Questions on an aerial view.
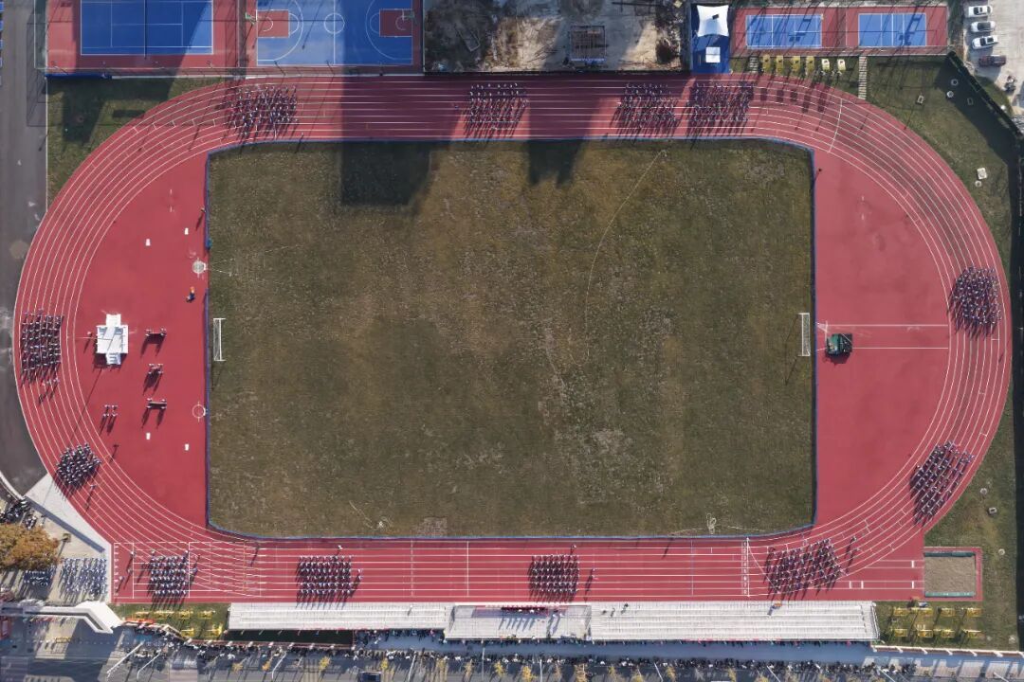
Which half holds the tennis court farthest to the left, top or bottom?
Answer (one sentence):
You can find the tennis court farthest to the left in the top half.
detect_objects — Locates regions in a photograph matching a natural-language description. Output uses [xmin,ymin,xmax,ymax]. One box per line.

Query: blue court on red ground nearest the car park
[846,4,948,54]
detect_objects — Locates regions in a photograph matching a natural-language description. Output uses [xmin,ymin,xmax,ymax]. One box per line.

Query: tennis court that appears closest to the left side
[47,0,238,76]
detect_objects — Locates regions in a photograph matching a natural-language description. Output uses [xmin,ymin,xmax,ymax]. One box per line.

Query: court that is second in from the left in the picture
[246,0,422,76]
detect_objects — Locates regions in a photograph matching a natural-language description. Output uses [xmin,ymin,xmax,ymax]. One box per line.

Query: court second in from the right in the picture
[733,4,846,54]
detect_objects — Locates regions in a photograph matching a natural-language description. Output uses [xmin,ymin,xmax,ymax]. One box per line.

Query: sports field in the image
[207,142,814,538]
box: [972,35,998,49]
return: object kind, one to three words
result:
car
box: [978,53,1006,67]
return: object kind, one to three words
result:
car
